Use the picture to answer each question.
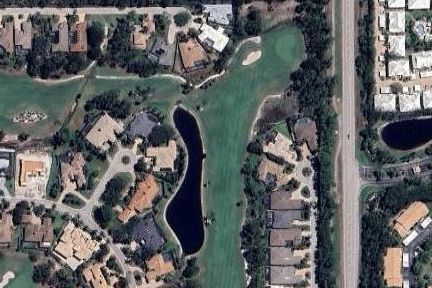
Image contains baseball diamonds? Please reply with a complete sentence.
No, the frame has no baseball diamond in it.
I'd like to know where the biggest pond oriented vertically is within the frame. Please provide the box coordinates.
[166,104,202,255]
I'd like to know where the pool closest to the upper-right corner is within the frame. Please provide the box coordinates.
[414,21,428,39]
